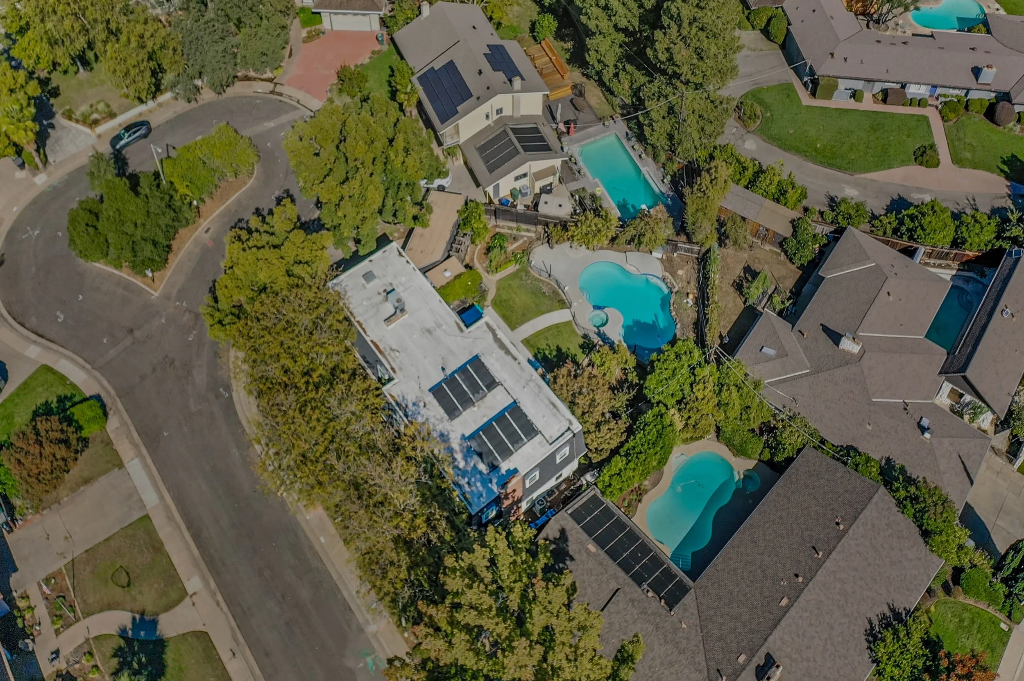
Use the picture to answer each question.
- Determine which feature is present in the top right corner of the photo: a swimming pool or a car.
swimming pool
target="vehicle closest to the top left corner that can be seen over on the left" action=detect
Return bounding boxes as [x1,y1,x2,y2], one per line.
[107,121,155,152]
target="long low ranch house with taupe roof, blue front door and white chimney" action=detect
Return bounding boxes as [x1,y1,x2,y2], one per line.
[777,0,1024,120]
